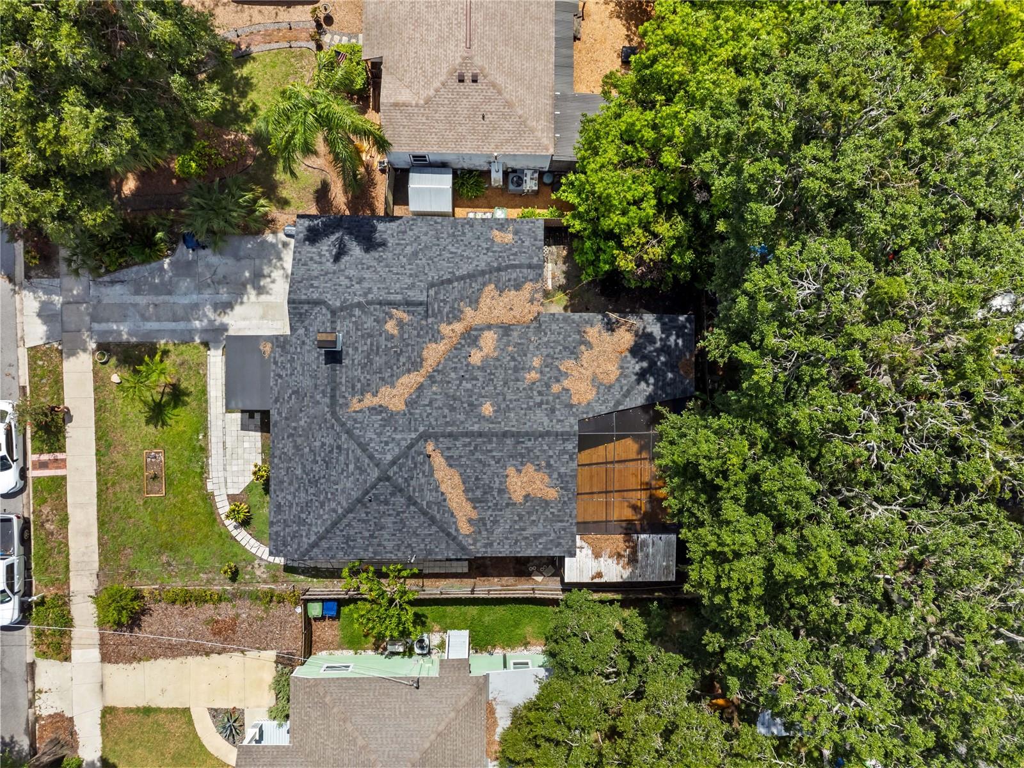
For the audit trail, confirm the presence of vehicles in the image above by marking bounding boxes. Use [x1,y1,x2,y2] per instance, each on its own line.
[0,516,31,631]
[0,401,26,495]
